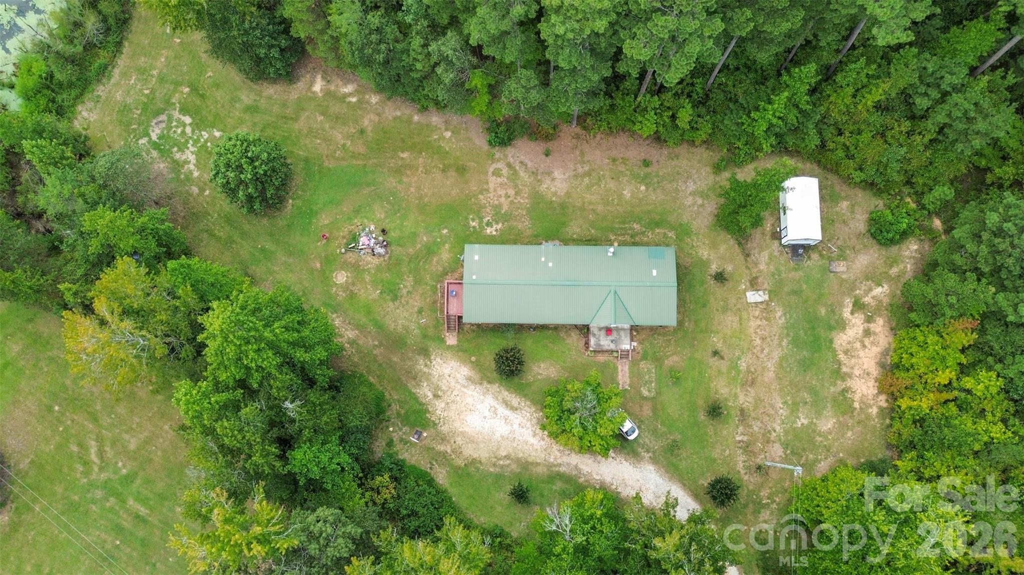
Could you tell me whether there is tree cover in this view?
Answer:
Yes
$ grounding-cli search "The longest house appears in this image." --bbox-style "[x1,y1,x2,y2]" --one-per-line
[462,244,679,327]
